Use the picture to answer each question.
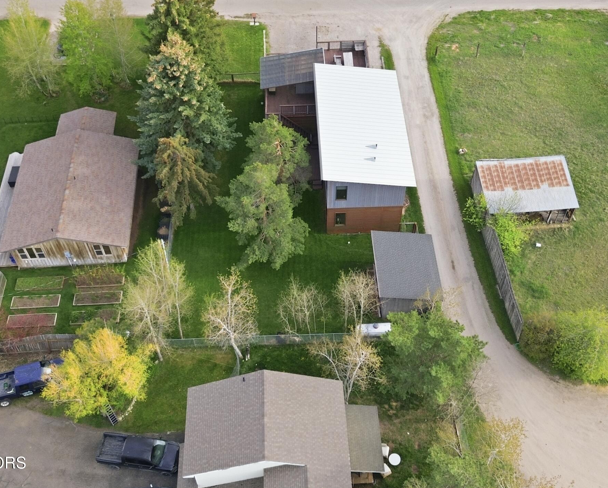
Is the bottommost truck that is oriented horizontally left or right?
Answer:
left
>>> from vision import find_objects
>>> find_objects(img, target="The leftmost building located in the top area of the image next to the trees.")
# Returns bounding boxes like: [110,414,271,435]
[0,107,140,274]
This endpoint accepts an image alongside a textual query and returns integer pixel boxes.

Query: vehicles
[0,358,66,403]
[96,434,184,477]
